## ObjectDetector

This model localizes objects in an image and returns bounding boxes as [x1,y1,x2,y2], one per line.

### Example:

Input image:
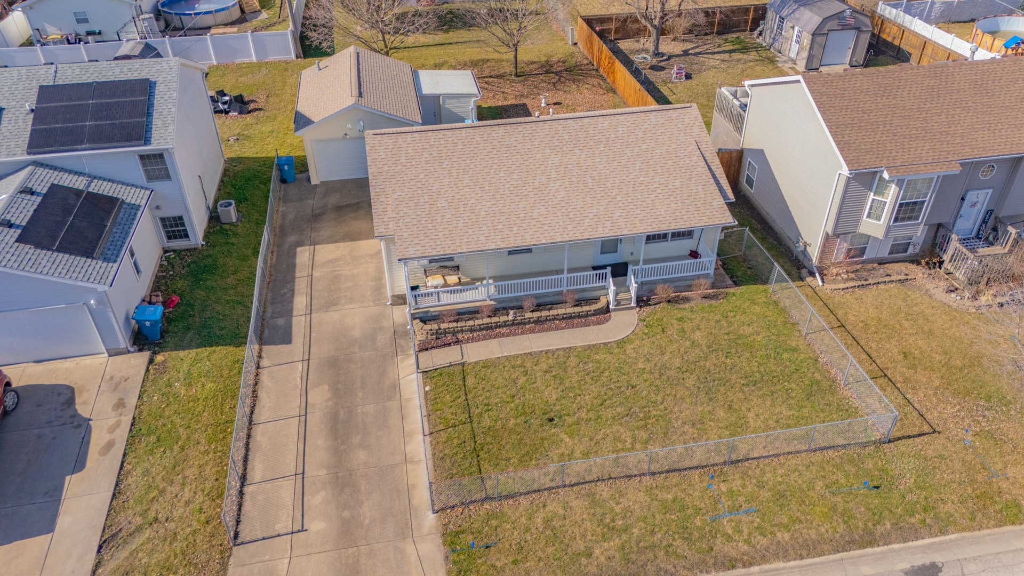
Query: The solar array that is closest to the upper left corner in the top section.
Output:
[27,78,152,157]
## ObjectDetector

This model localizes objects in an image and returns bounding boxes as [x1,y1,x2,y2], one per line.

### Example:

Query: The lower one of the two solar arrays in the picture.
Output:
[14,181,124,259]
